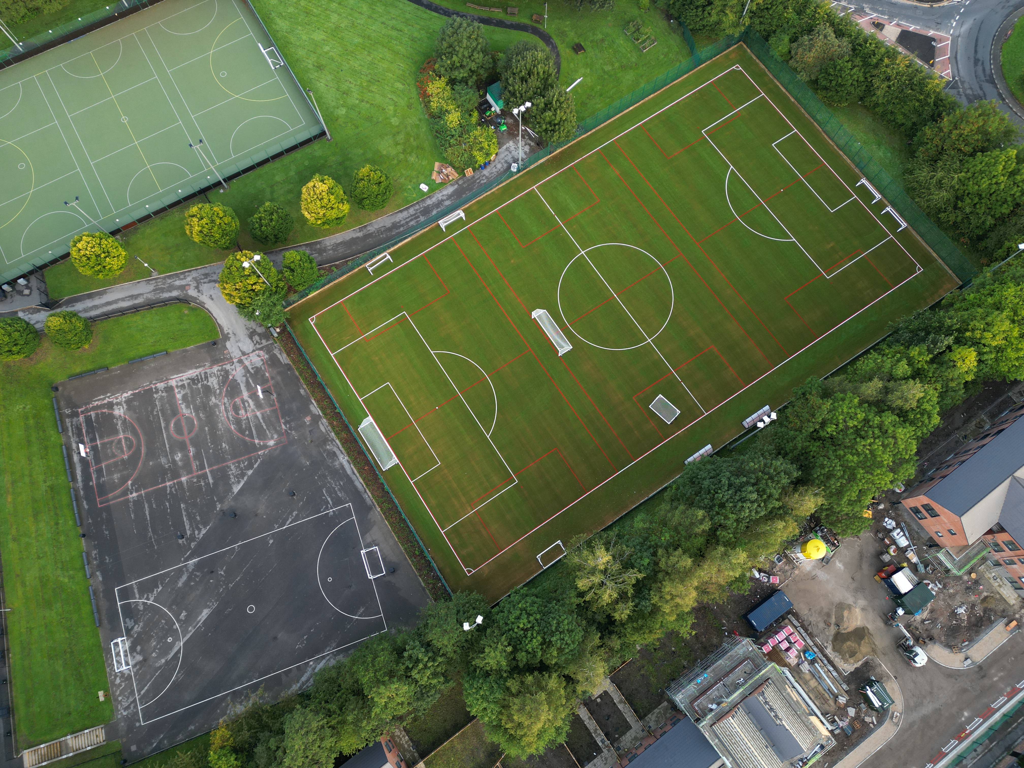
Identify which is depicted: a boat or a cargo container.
cargo container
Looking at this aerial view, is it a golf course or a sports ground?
sports ground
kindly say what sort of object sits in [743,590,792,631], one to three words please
shipping container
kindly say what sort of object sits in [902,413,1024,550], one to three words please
house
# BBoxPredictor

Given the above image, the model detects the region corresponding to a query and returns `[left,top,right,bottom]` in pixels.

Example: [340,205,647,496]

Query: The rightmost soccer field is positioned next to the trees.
[286,43,955,604]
